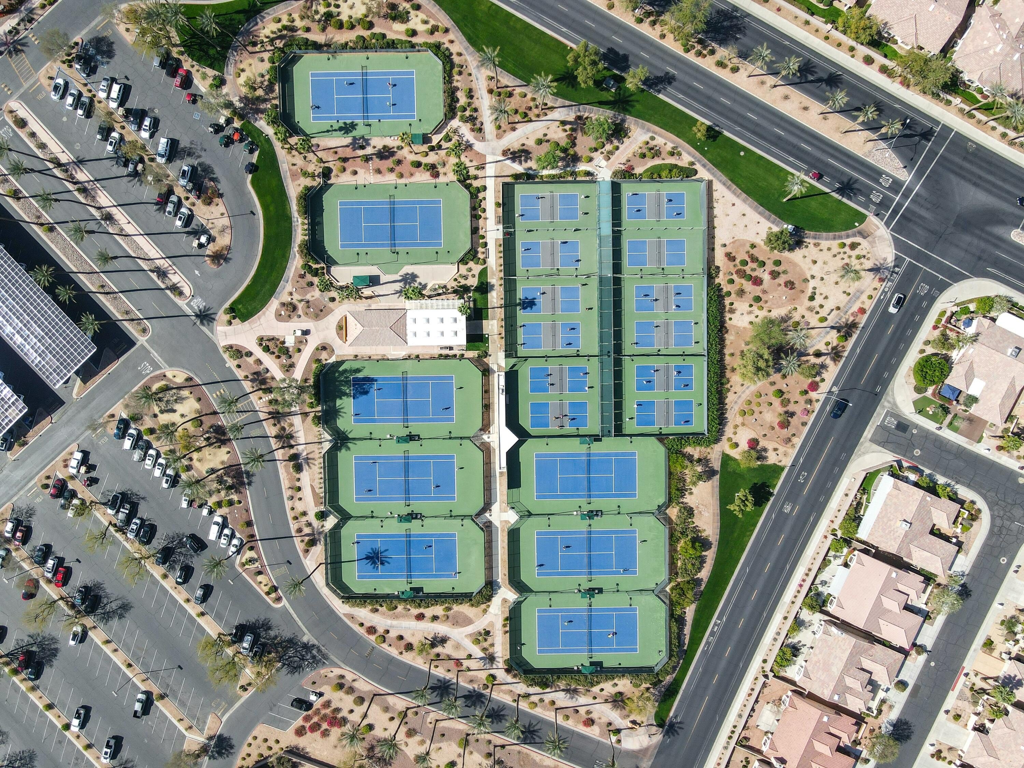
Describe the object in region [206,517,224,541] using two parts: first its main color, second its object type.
white vehicle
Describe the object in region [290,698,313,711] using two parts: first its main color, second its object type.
black vehicle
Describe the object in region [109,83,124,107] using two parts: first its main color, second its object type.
white car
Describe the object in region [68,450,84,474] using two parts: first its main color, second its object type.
white vehicle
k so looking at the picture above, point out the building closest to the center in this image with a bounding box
[498,372,519,470]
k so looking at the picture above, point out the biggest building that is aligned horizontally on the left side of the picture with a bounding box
[347,309,466,347]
